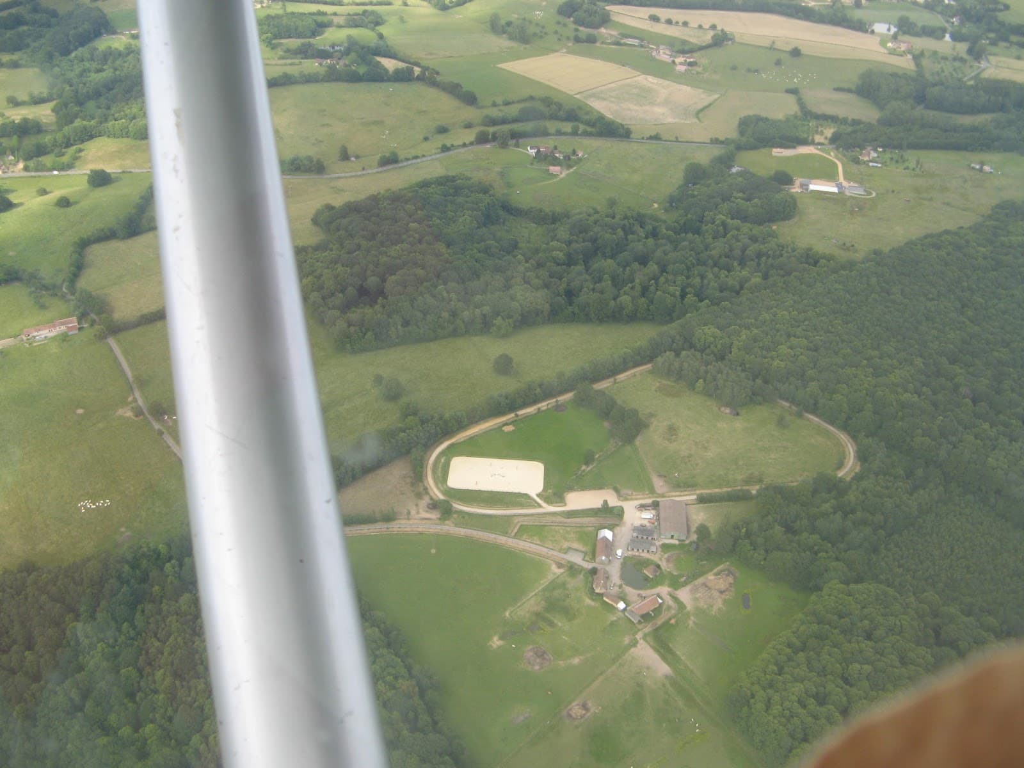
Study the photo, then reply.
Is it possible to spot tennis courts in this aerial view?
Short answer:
No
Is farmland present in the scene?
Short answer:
Yes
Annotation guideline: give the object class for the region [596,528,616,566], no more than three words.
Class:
barn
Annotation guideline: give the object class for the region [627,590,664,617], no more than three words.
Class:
barn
